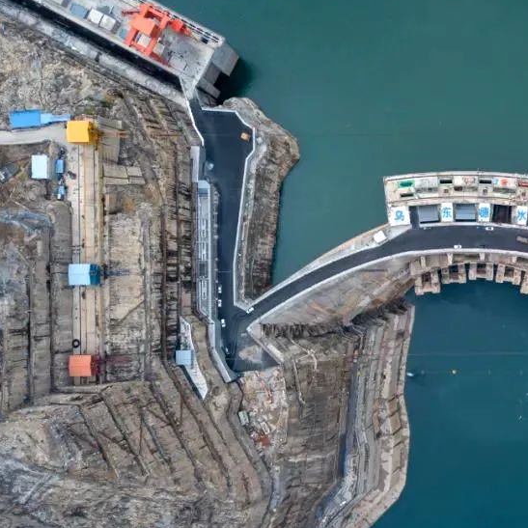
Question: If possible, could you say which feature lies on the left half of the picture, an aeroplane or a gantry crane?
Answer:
gantry crane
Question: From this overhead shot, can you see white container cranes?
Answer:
No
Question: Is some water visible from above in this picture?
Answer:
Yes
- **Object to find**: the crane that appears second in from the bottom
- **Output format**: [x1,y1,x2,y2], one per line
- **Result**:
[67,263,143,286]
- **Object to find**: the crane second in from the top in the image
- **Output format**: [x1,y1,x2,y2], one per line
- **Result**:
[67,120,143,144]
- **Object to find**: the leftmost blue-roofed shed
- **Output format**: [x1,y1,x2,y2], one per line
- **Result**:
[9,109,45,130]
